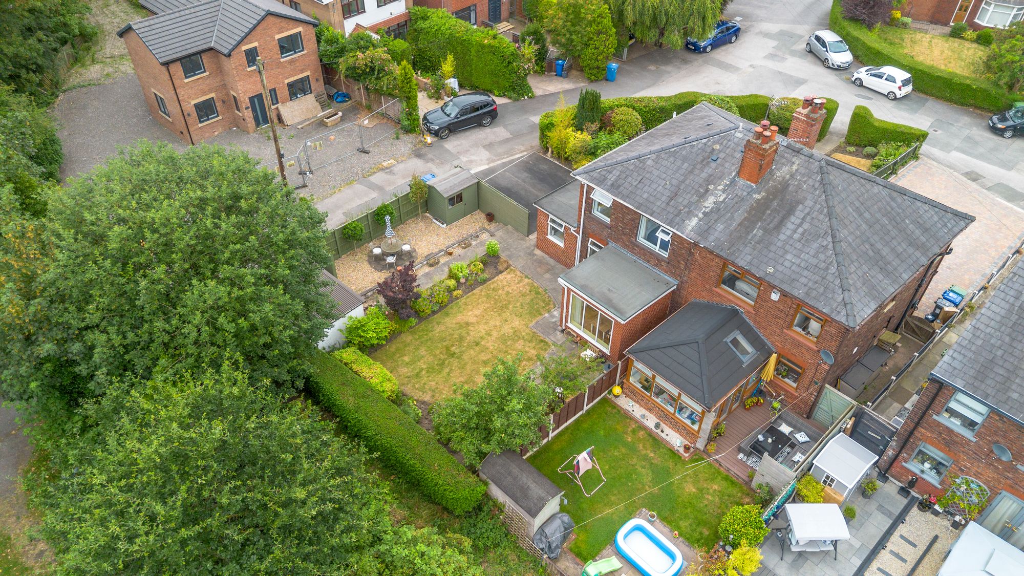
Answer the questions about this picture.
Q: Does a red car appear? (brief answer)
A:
No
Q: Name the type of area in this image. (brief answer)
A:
residential area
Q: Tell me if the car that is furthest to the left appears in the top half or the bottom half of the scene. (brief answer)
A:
top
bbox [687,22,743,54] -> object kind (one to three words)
car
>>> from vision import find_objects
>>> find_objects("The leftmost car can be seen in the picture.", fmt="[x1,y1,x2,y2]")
[420,91,500,140]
